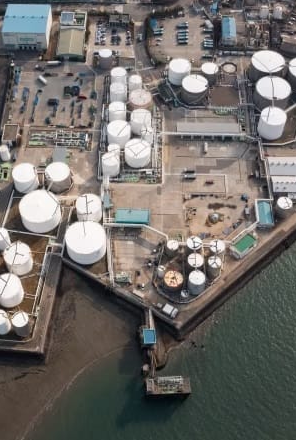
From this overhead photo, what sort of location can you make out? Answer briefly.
industrial area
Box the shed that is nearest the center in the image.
[116,208,150,225]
